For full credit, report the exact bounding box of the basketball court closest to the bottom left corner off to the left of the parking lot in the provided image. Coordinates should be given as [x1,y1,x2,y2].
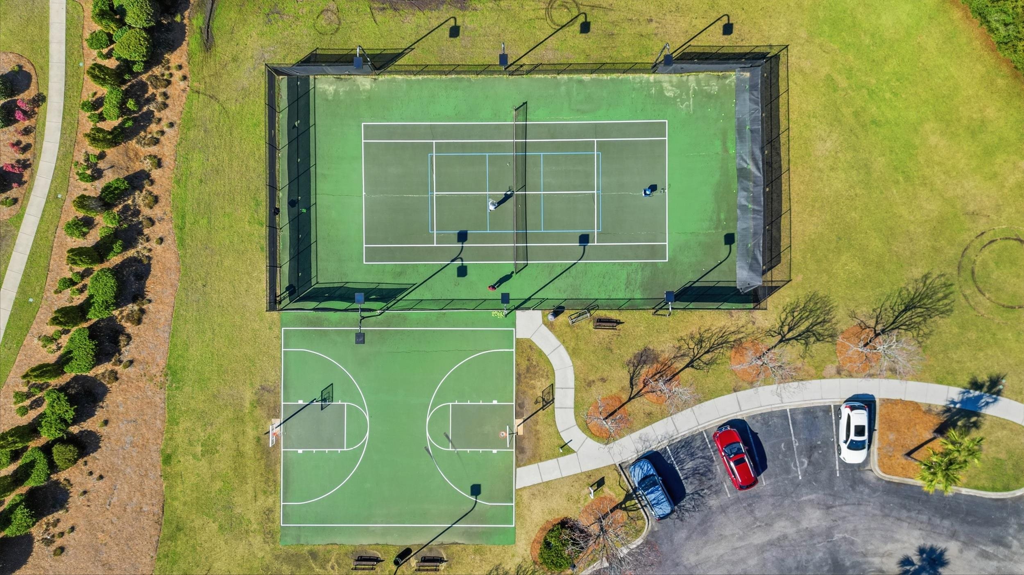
[281,310,515,546]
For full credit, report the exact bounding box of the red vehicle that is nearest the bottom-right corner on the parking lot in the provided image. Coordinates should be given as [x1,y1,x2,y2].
[715,426,757,491]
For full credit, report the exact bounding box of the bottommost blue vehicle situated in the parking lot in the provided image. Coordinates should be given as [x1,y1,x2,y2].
[632,457,675,522]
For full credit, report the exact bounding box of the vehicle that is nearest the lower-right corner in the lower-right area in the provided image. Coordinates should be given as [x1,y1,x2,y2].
[838,402,871,462]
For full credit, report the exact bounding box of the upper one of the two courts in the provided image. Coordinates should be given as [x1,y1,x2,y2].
[281,74,753,310]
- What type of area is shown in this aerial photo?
sports ground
